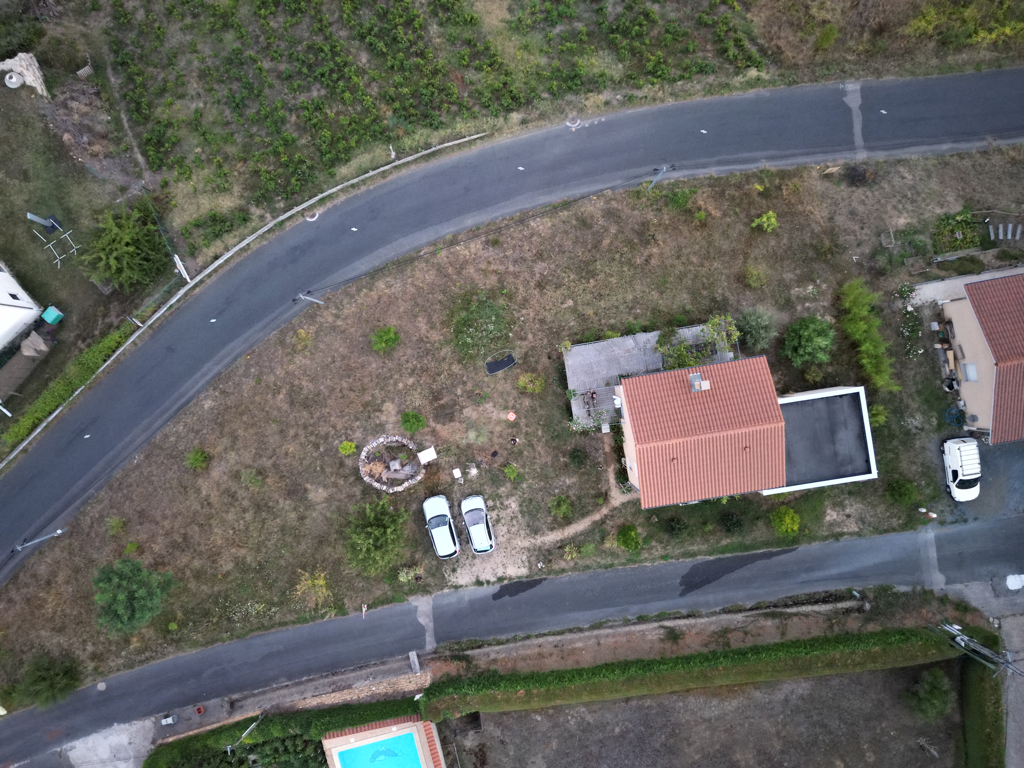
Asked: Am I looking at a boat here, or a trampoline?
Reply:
trampoline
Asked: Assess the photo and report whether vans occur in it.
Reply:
Yes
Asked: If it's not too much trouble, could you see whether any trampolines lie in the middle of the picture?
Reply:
Yes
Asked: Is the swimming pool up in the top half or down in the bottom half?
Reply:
bottom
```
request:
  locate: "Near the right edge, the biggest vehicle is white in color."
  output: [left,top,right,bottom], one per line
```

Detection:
[940,438,985,503]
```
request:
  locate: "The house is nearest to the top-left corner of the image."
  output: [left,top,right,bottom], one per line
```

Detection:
[0,264,44,349]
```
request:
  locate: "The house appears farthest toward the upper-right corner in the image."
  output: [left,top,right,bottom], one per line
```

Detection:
[942,272,1024,446]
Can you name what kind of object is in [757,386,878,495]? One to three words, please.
building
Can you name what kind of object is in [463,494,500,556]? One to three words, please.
car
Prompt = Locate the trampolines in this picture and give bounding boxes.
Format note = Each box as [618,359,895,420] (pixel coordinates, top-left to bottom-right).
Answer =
[484,350,517,375]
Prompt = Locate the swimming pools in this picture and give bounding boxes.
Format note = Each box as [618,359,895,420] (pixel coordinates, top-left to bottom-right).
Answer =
[322,721,433,768]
